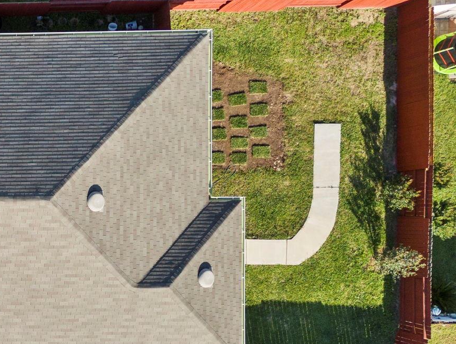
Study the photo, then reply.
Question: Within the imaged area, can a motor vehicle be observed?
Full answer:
No, I can't see a single motor vehicle in this photo.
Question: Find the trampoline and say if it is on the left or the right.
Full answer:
You can find the trampoline on the right side of the picture.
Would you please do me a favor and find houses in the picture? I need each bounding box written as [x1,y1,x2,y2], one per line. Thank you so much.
[0,27,247,344]
[428,0,456,16]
